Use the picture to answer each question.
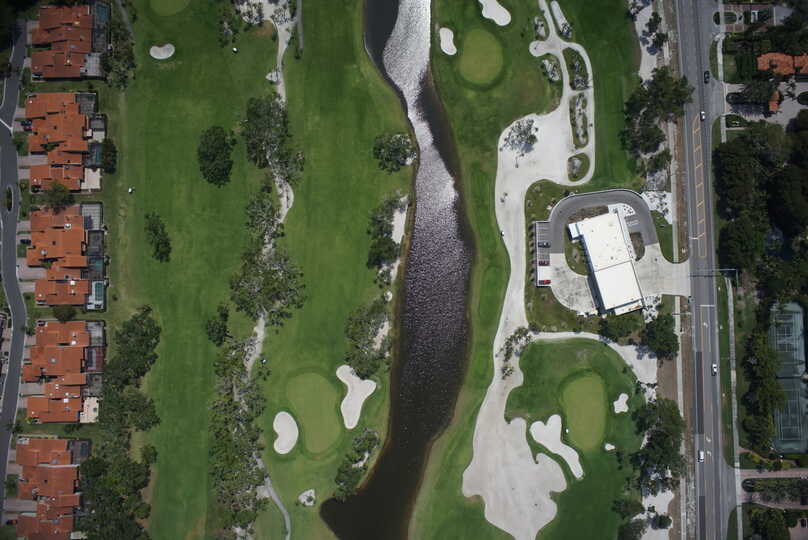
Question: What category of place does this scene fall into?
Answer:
golf course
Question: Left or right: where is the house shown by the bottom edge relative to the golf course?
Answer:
on its left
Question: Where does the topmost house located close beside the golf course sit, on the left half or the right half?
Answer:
left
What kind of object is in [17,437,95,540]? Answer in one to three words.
house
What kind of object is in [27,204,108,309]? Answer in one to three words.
house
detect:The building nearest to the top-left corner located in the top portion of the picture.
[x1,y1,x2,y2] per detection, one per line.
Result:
[31,2,114,80]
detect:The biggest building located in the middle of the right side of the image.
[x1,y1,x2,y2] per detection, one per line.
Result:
[566,213,644,315]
